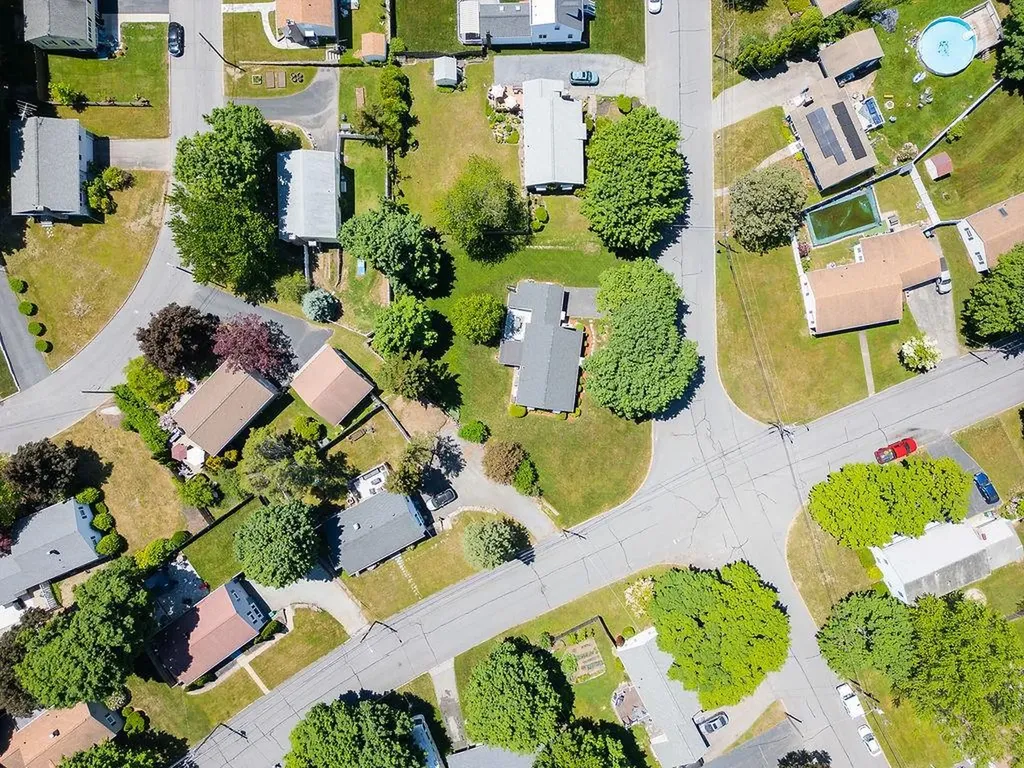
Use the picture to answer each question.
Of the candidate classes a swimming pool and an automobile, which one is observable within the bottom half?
automobile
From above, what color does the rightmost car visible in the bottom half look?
blue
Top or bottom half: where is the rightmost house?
top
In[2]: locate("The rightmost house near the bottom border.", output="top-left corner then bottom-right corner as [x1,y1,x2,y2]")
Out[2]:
[617,628,710,768]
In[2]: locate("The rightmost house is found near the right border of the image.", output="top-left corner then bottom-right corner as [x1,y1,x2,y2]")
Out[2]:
[955,194,1024,269]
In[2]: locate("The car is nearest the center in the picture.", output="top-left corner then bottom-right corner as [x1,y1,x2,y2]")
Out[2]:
[424,487,457,511]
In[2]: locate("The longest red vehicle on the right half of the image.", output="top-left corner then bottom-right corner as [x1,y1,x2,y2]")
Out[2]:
[873,438,918,464]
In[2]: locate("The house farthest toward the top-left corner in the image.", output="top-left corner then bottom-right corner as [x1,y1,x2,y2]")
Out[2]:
[25,0,105,57]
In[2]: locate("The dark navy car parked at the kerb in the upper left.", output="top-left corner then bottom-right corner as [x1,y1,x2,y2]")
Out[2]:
[167,21,185,58]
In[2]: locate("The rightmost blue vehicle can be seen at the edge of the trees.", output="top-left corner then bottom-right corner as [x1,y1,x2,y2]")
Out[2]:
[973,472,999,504]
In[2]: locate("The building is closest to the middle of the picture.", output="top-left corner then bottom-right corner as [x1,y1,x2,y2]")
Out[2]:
[497,280,583,411]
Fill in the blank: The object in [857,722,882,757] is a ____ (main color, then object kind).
white car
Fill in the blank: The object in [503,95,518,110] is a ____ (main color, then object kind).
white umbrella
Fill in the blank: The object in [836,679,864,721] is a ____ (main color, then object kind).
white truck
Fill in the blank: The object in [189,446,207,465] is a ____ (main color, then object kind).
white umbrella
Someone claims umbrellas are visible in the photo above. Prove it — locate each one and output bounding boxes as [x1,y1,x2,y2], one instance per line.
[490,85,506,102]
[174,443,190,459]
[189,446,207,465]
[503,95,518,110]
